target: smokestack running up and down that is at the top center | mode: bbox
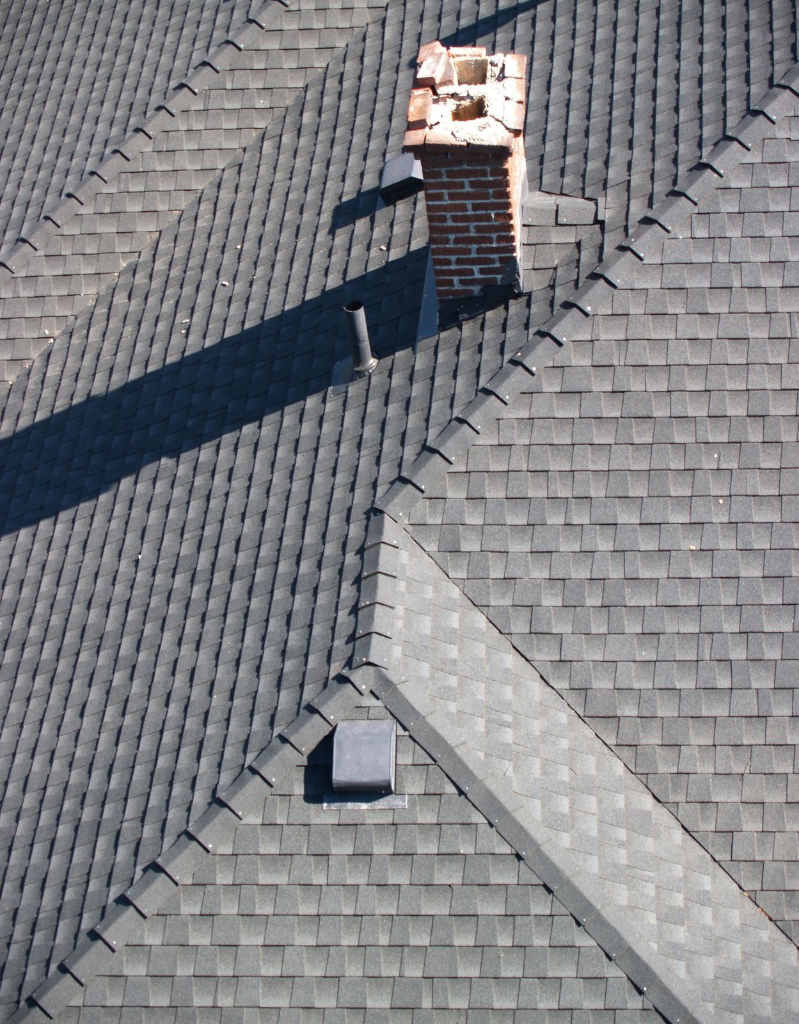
[404,46,530,349]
